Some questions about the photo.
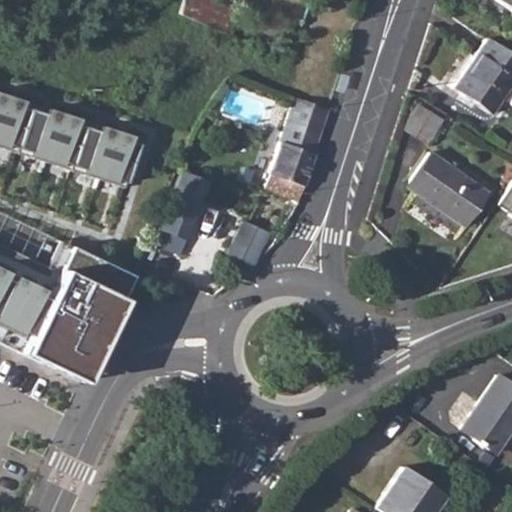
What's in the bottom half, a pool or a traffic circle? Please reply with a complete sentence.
The one visible in the bottom half is a traffic circle.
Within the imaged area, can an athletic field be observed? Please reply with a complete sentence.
No, the photo shows no athletic field.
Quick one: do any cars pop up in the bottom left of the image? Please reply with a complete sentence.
Yes, you'll find a car in the bottom left of the image.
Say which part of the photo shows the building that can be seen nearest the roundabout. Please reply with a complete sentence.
The building that can be seen nearest the roundabout appears toward the center of the photo.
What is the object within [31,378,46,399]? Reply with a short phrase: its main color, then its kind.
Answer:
white car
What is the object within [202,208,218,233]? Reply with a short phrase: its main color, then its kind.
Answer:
white vehicle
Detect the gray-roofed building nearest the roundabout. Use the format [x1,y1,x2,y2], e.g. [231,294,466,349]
[230,222,268,266]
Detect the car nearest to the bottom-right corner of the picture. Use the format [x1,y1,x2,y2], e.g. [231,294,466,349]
[458,434,478,452]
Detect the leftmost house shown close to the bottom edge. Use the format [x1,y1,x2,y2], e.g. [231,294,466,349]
[378,466,451,512]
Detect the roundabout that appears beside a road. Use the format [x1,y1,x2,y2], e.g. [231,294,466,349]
[206,266,376,438]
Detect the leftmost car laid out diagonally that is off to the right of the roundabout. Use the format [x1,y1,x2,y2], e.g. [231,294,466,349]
[386,414,406,435]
